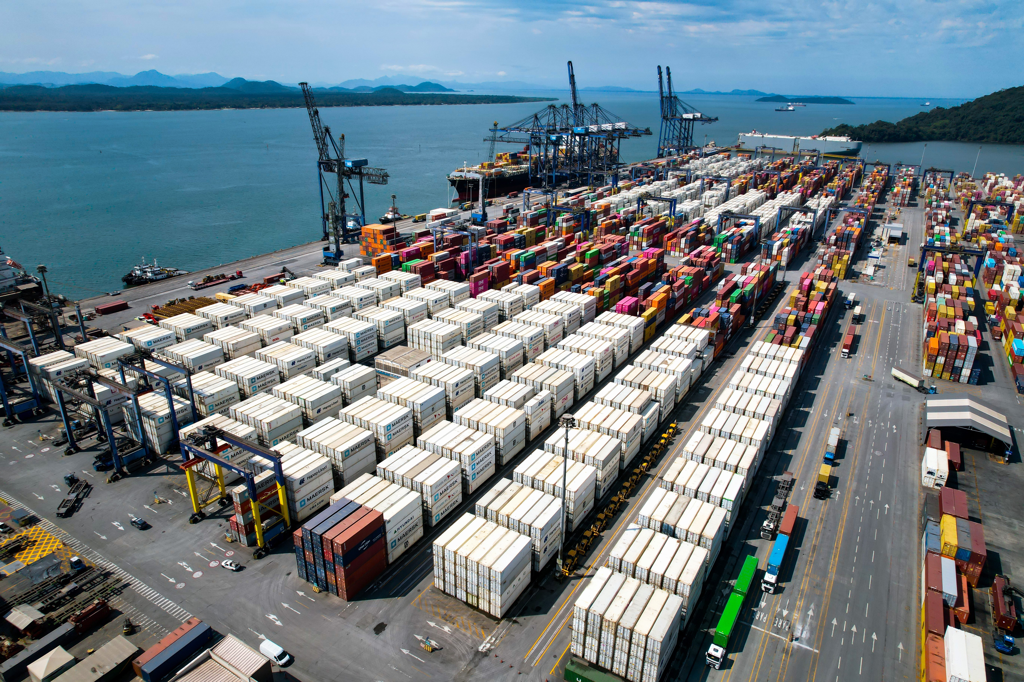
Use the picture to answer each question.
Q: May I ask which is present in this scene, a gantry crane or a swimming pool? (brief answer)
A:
gantry crane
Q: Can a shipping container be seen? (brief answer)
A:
Yes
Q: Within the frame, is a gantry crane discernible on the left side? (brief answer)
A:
Yes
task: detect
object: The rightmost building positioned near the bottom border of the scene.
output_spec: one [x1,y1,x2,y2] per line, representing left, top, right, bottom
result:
[163,631,260,682]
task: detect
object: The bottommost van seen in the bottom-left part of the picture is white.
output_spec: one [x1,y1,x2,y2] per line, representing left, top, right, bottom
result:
[261,638,294,672]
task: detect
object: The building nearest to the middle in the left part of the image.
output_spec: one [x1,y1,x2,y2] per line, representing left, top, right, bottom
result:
[372,346,433,378]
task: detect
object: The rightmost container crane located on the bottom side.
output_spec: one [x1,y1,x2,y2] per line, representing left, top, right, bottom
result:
[168,417,301,560]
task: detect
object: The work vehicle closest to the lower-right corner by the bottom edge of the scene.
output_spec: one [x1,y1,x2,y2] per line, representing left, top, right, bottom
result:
[994,633,1013,657]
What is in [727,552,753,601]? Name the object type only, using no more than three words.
shipping container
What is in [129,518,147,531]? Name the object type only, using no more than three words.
vehicle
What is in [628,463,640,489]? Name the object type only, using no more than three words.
vehicle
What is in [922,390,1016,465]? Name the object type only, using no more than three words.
shed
